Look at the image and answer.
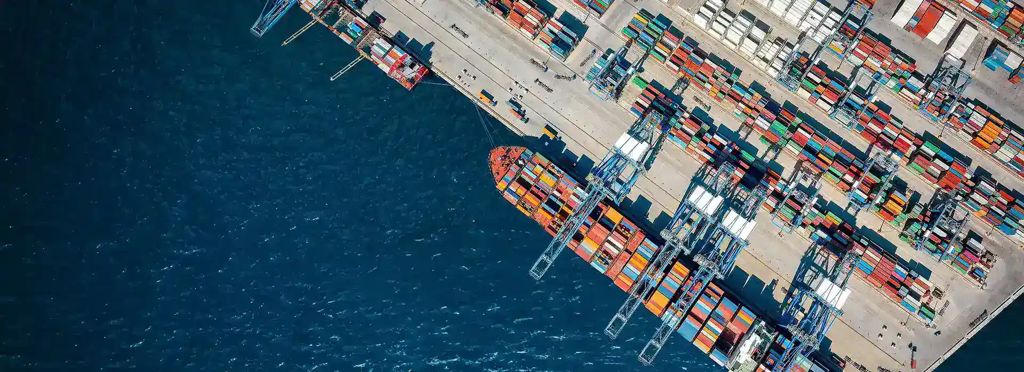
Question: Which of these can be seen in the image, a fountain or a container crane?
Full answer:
The image shows a container crane.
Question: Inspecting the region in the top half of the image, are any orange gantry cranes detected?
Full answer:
No, looking in the top half of the image, there is no orange gantry crane.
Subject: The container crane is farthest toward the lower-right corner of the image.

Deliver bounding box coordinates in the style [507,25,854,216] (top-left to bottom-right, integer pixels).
[911,202,975,261]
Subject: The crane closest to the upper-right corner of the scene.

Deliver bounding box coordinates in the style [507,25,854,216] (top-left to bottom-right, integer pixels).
[915,62,978,125]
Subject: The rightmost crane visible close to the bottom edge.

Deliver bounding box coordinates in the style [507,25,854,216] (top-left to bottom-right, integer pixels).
[768,252,865,372]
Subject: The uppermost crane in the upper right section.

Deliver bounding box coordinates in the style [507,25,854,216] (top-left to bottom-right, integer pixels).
[822,0,880,61]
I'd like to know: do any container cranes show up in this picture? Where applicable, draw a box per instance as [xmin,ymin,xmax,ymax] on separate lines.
[827,69,886,130]
[915,62,978,125]
[911,202,975,261]
[527,110,663,283]
[822,0,880,61]
[842,152,901,212]
[250,0,290,41]
[601,163,738,342]
[589,44,638,103]
[634,186,773,368]
[768,176,824,234]
[775,33,830,94]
